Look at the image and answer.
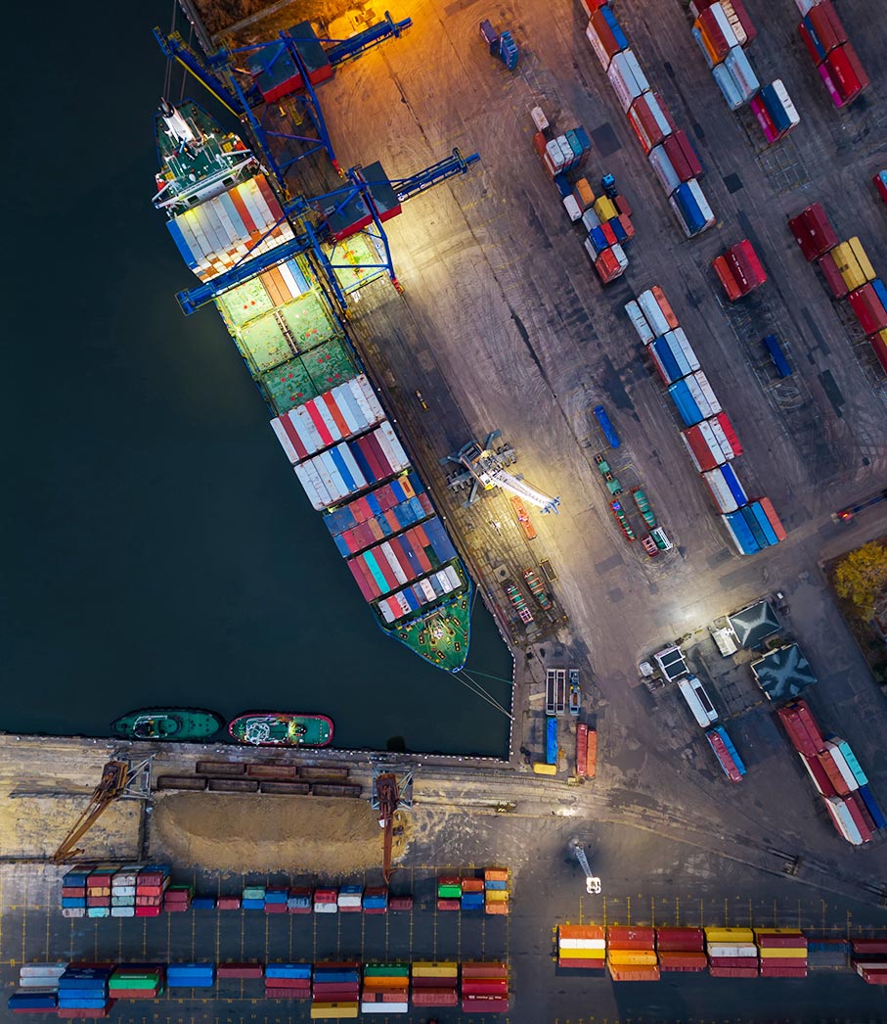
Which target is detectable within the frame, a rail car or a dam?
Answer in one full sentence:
Of the two, only a rail car appears.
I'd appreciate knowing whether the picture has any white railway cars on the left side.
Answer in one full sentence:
No, no white railway car appears on the left side.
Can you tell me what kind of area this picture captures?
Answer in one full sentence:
This image shows a port.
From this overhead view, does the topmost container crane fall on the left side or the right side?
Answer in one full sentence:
It is on the left.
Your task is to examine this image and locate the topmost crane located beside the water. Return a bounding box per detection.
[145,1,411,197]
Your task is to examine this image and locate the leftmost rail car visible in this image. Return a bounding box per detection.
[153,778,205,794]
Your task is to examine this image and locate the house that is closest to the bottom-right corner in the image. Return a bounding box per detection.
[748,642,817,700]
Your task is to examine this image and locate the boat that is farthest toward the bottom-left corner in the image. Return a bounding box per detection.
[110,709,221,742]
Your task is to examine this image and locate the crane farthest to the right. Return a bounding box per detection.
[436,426,559,516]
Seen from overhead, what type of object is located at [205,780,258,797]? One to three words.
rail car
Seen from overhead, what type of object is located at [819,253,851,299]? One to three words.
shipping container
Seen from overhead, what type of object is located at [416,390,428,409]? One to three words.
vehicle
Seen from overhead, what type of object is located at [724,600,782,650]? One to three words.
house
